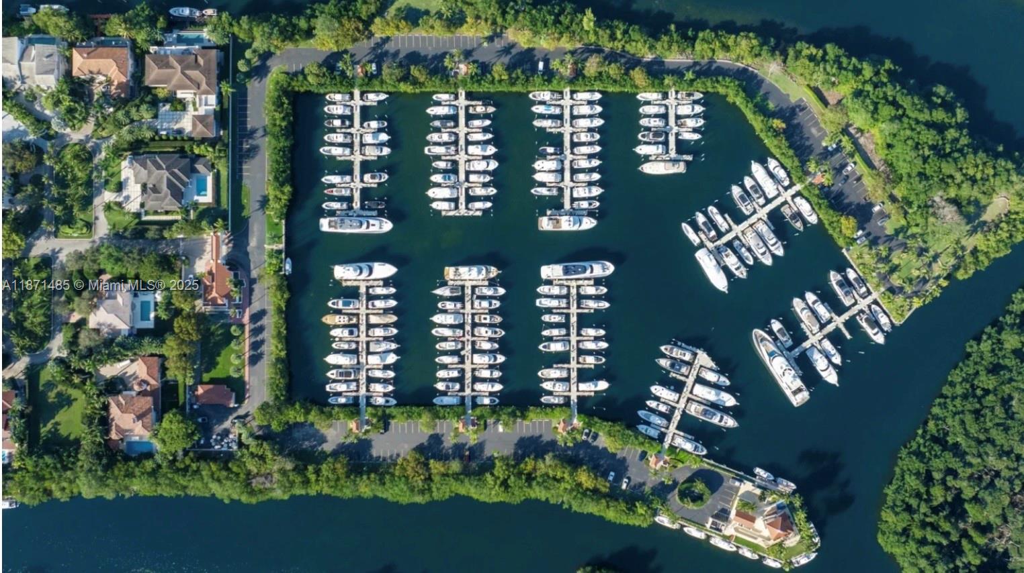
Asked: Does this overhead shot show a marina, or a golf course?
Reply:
marina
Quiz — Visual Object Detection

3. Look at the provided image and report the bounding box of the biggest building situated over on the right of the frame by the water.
[724,499,800,548]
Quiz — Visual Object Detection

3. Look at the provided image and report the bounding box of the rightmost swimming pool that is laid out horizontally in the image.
[176,31,203,43]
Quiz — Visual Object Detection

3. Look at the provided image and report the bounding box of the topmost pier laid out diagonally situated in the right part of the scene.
[698,178,810,266]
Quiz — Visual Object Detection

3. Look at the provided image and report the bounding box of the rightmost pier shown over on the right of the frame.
[774,288,884,376]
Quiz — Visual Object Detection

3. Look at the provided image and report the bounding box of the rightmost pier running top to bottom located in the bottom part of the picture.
[651,340,711,454]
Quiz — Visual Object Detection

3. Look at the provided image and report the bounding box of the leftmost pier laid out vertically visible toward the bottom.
[342,280,383,429]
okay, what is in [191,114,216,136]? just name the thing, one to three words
building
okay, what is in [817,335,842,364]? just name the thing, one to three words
boat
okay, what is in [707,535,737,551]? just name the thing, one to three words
boat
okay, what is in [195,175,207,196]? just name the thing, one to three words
swimming pool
